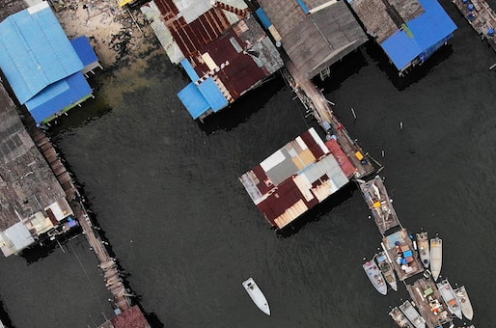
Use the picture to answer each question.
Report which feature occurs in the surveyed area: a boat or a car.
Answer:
boat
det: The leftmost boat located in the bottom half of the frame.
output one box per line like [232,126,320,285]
[242,278,268,316]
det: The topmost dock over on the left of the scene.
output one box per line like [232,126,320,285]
[31,129,142,312]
